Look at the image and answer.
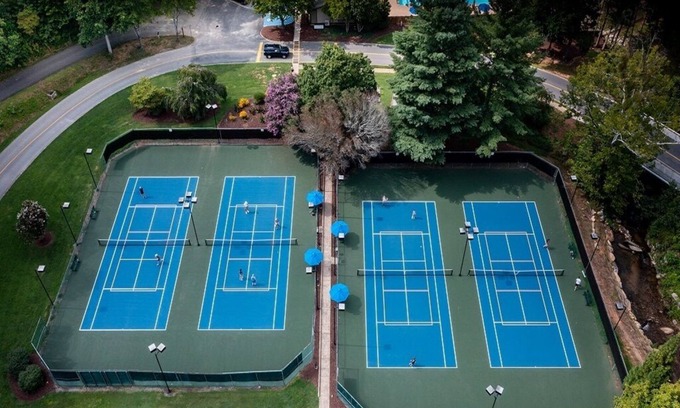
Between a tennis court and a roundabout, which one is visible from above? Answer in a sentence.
It is a tennis court that can be seen here.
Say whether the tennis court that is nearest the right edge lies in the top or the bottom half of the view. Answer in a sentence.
The tennis court that is nearest the right edge is in the bottom half of the image.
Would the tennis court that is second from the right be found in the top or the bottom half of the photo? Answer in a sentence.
You can find the tennis court that is second from the right in the bottom half.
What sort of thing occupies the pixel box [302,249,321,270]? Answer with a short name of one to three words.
umbrella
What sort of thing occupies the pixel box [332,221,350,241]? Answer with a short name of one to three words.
umbrella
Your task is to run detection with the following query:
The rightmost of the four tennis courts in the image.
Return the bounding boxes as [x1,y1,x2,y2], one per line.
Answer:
[462,201,581,368]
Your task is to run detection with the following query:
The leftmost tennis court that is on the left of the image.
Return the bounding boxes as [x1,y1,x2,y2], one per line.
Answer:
[80,177,199,330]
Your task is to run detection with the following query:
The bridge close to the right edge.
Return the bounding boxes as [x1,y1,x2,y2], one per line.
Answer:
[605,125,680,191]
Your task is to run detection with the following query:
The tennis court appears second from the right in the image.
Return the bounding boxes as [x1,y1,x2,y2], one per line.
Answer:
[362,201,458,368]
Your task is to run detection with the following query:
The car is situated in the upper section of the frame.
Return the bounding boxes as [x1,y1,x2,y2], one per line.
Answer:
[262,45,289,58]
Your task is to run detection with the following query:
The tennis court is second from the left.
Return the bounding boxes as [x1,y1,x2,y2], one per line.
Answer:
[199,177,295,330]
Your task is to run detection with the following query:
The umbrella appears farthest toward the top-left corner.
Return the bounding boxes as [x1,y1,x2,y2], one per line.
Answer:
[306,191,324,211]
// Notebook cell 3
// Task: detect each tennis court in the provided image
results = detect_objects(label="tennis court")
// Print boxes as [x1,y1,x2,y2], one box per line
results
[199,177,295,330]
[80,177,199,330]
[462,201,581,368]
[362,201,458,368]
